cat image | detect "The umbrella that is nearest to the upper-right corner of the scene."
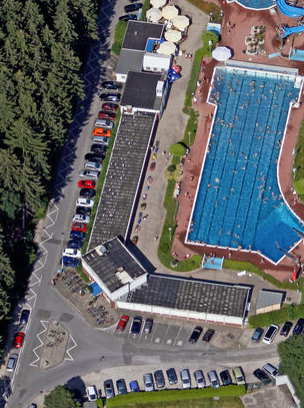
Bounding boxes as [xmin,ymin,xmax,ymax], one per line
[212,45,231,62]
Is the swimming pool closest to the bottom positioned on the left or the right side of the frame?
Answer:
right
